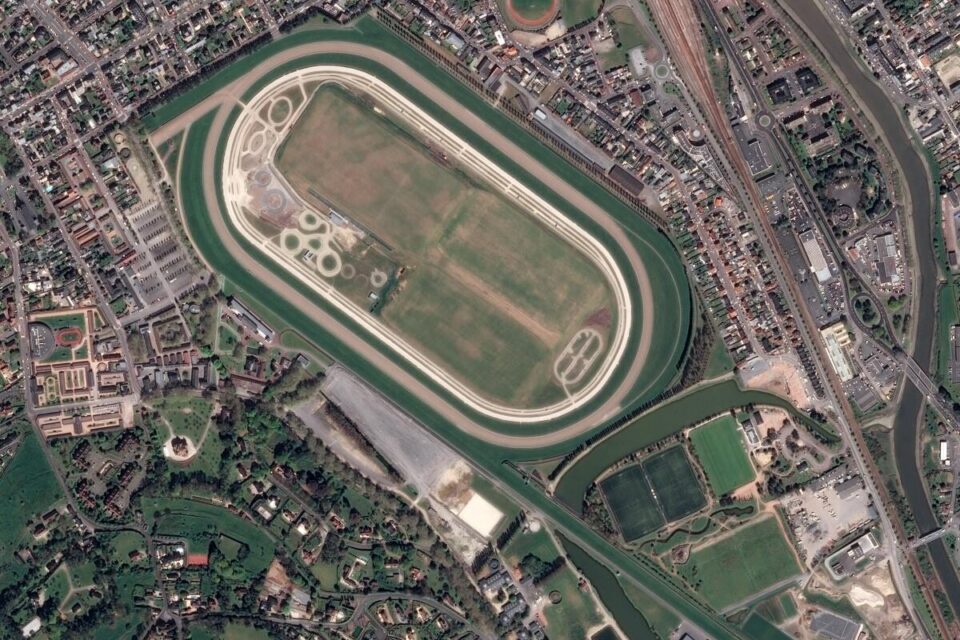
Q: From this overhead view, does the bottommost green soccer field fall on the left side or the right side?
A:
right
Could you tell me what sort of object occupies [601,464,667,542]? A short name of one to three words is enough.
soccer field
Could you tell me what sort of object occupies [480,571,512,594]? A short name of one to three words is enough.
house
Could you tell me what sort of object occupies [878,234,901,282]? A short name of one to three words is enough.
building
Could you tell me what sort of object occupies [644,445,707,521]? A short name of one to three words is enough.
soccer field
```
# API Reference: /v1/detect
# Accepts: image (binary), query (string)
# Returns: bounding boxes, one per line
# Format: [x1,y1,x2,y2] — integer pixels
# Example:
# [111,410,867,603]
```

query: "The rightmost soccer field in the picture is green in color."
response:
[688,415,759,495]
